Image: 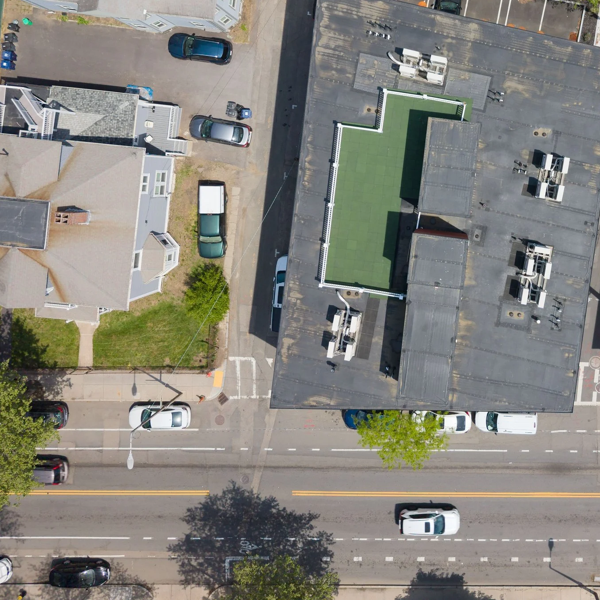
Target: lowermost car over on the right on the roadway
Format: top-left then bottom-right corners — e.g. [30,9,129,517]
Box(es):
[400,508,459,543]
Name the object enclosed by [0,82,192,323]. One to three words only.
house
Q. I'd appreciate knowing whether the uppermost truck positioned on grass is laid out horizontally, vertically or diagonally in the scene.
vertically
